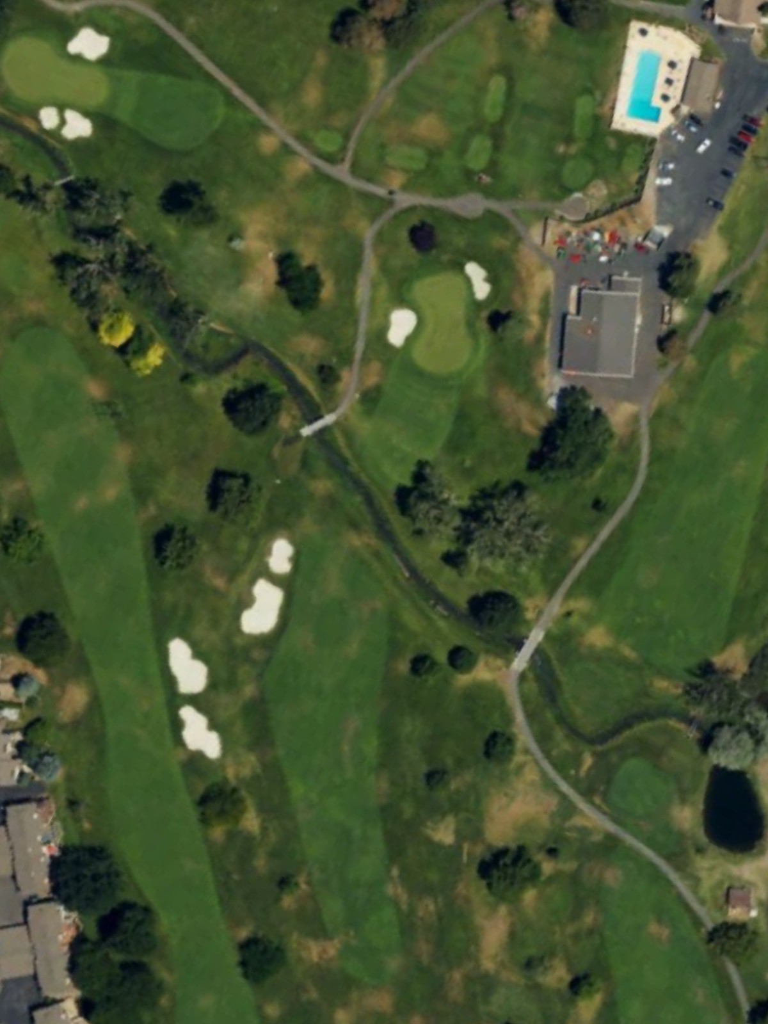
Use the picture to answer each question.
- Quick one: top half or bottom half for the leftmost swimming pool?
top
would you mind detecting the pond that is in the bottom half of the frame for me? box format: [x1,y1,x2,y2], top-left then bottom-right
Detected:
[703,764,764,853]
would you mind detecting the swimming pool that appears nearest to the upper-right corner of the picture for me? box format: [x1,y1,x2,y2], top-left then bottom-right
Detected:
[611,20,701,139]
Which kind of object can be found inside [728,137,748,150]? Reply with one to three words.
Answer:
vehicle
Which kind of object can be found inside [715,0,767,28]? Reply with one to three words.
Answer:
building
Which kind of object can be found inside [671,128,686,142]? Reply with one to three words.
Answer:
car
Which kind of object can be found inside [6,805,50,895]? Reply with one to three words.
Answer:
house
